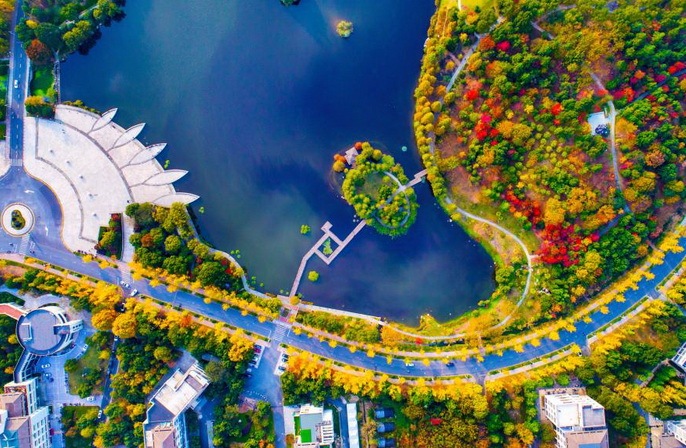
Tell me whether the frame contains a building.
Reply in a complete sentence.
Yes, a building appears in the view.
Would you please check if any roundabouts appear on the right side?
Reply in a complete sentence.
No, I can find no roundabout on the right side.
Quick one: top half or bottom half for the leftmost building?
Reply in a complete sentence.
It is in the bottom half that the leftmost building appears.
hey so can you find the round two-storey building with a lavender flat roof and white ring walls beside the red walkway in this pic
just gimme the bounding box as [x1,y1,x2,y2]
[16,299,96,355]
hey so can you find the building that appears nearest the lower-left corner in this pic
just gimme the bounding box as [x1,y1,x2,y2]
[0,348,53,448]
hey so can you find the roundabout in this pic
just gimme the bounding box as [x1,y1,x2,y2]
[1,203,34,236]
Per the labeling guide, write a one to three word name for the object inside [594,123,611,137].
gazebo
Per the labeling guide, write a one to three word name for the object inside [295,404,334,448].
building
